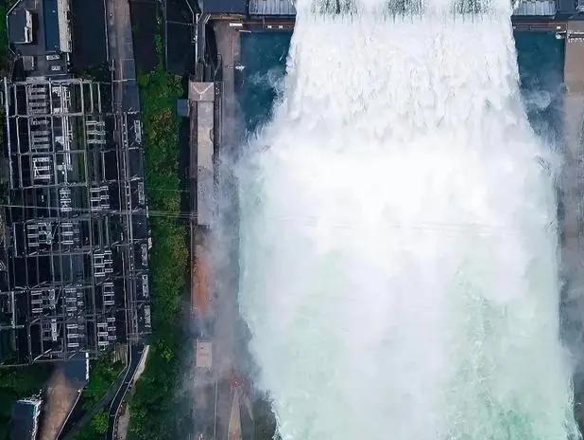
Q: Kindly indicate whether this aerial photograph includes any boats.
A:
No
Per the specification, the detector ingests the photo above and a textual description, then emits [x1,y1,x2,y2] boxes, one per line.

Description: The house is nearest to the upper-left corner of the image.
[9,10,35,44]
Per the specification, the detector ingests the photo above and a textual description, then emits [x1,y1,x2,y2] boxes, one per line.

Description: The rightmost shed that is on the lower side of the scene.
[196,340,213,366]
